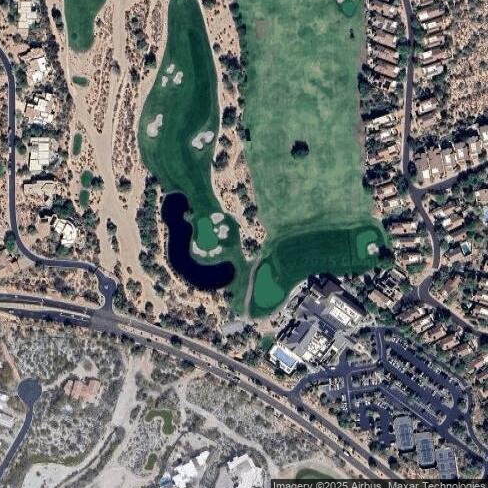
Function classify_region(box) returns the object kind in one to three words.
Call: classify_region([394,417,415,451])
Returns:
tennis court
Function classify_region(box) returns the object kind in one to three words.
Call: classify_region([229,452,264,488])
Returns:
house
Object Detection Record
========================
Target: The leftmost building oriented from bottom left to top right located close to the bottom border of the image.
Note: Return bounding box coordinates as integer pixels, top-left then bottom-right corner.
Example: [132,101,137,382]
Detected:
[171,448,211,488]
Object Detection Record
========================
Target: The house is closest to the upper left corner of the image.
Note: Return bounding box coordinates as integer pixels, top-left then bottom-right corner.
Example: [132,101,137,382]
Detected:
[15,0,37,37]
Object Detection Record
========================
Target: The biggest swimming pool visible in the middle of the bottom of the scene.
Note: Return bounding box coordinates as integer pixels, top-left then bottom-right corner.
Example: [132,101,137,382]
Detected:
[274,346,297,366]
